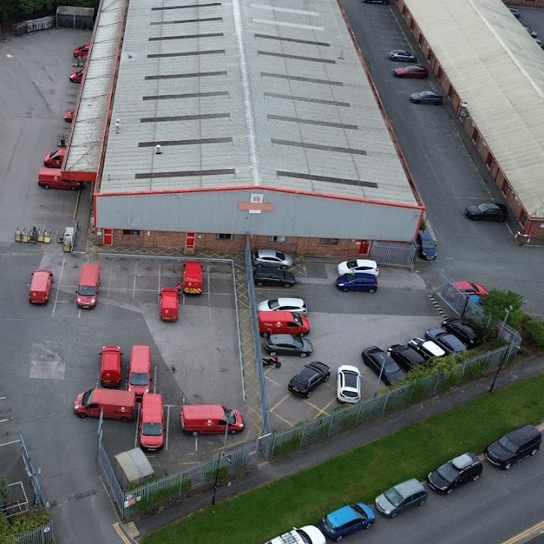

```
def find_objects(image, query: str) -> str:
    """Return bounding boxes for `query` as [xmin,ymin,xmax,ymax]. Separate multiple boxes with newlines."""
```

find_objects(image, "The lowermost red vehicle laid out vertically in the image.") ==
[138,390,165,448]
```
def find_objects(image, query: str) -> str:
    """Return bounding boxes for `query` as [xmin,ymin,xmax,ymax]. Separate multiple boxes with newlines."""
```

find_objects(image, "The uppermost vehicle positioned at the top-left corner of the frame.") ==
[75,39,92,55]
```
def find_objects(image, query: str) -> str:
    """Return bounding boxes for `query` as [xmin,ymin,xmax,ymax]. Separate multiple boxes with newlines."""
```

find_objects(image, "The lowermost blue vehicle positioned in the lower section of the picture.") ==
[320,505,373,543]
